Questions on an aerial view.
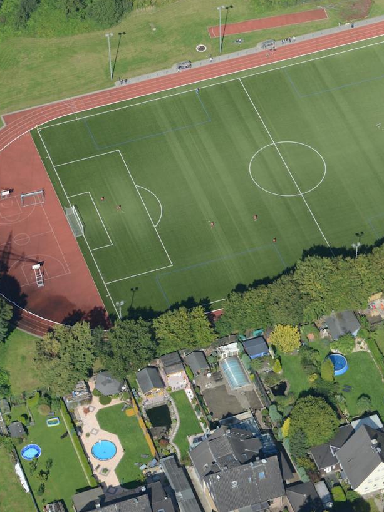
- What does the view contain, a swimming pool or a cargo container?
swimming pool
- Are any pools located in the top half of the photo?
No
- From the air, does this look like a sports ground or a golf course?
sports ground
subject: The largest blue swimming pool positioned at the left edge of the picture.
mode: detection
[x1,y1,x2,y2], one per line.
[18,441,44,460]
